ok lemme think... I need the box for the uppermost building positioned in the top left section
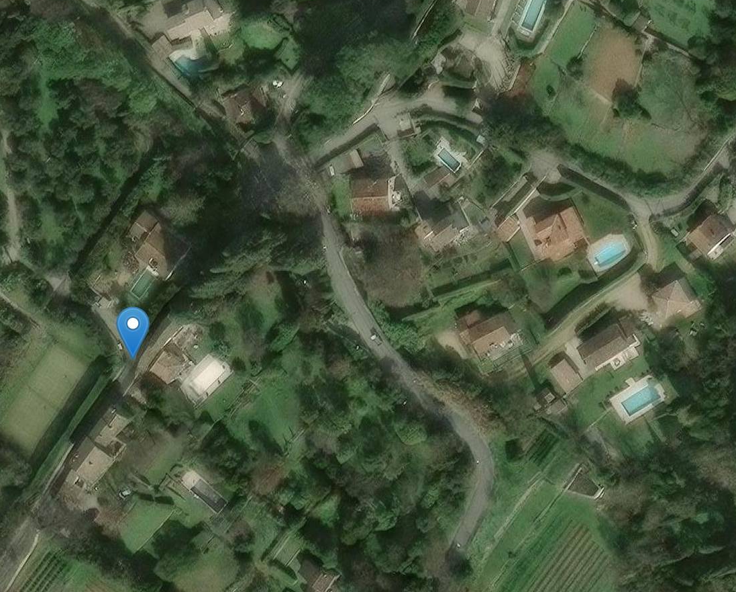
[164,0,225,43]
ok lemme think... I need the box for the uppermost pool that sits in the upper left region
[168,33,218,79]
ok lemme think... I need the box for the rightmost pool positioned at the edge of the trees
[610,375,666,424]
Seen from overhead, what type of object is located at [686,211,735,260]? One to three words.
house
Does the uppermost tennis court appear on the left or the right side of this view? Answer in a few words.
left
